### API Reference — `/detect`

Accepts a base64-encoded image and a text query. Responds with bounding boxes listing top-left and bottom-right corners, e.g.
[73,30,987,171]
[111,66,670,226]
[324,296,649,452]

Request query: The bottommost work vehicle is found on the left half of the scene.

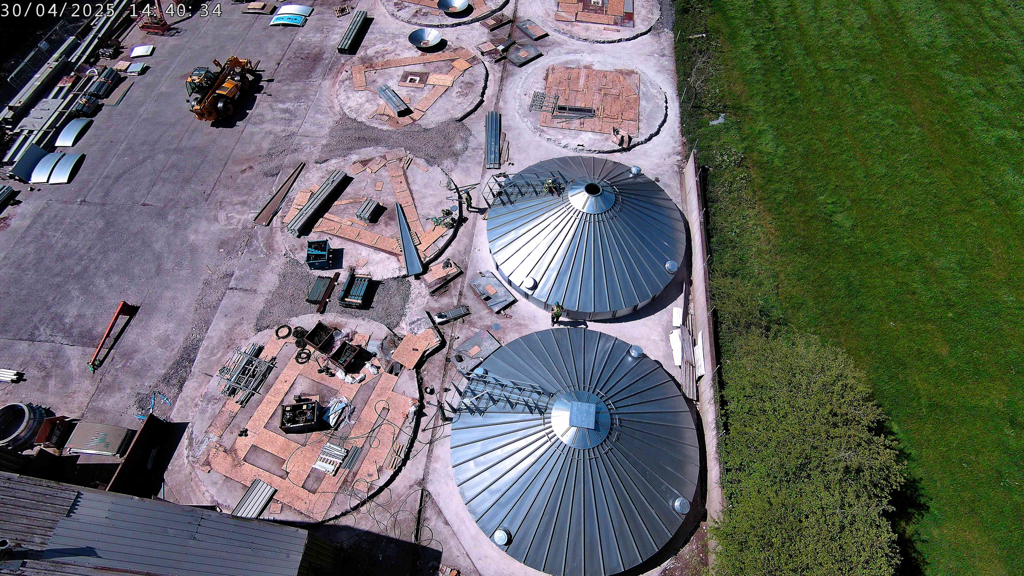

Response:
[182,56,269,124]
